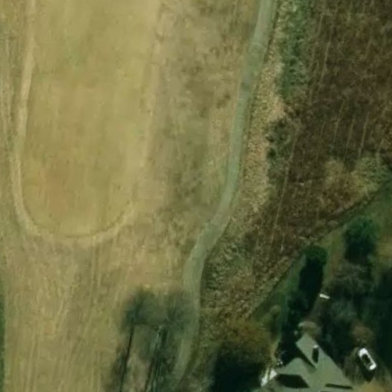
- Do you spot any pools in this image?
No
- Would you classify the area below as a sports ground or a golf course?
golf course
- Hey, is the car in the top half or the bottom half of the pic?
bottom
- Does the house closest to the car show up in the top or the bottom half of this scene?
bottom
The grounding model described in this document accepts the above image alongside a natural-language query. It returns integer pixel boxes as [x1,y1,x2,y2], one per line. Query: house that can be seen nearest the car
[248,330,360,392]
